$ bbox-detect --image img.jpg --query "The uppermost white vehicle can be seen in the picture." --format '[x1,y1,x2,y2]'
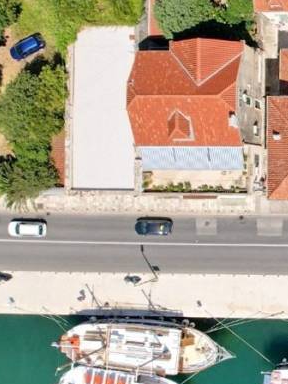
[12,218,51,238]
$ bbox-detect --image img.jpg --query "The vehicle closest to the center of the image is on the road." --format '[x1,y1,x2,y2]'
[137,217,175,236]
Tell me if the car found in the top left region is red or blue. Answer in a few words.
blue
